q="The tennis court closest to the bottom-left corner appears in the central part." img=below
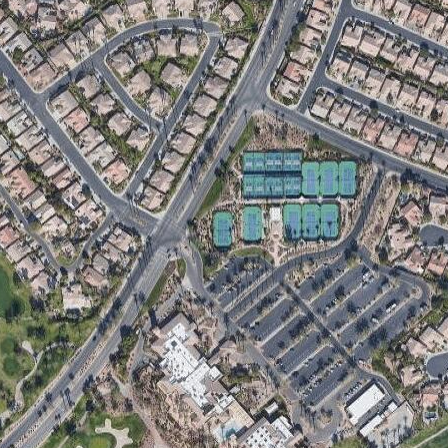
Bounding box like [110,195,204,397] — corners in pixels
[215,212,232,248]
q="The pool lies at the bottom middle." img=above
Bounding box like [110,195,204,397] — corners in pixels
[224,422,240,440]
